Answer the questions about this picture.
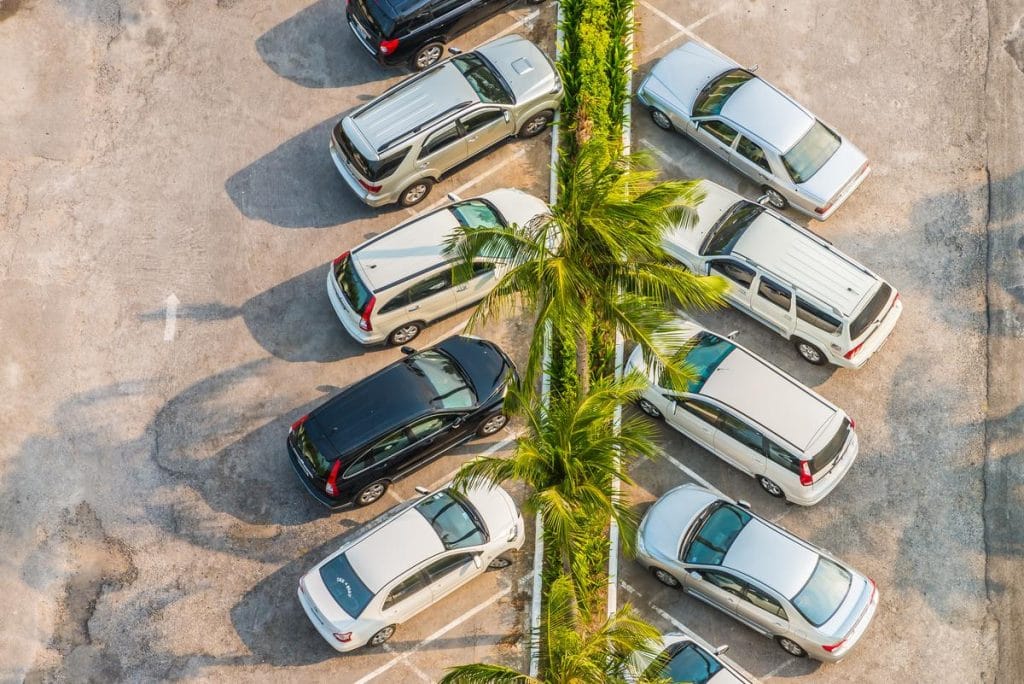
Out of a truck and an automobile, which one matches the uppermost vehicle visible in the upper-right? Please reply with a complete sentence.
It looks like the uppermost vehicle visible in the upper-right is an automobile.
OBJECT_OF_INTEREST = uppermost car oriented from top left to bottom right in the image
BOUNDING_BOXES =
[636,38,870,223]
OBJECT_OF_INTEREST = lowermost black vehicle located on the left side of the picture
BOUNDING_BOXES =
[287,334,522,510]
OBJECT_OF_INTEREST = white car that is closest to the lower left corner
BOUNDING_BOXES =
[294,473,529,654]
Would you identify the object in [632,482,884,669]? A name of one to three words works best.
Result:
car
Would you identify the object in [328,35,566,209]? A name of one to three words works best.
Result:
car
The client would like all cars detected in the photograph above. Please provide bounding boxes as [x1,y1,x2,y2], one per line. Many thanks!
[622,637,757,684]
[662,188,900,375]
[632,482,884,669]
[328,35,566,209]
[287,334,522,510]
[342,0,548,76]
[636,38,870,223]
[322,180,550,350]
[624,324,858,507]
[294,473,529,654]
